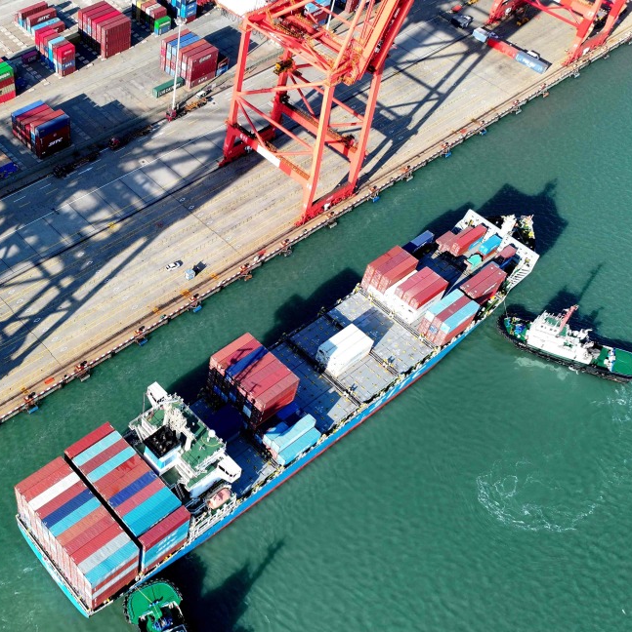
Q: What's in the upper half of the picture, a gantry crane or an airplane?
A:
gantry crane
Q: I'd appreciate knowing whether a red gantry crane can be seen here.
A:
Yes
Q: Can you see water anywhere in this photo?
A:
Yes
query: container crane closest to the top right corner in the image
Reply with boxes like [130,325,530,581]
[490,0,630,65]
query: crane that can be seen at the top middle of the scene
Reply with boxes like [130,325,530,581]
[203,0,420,230]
